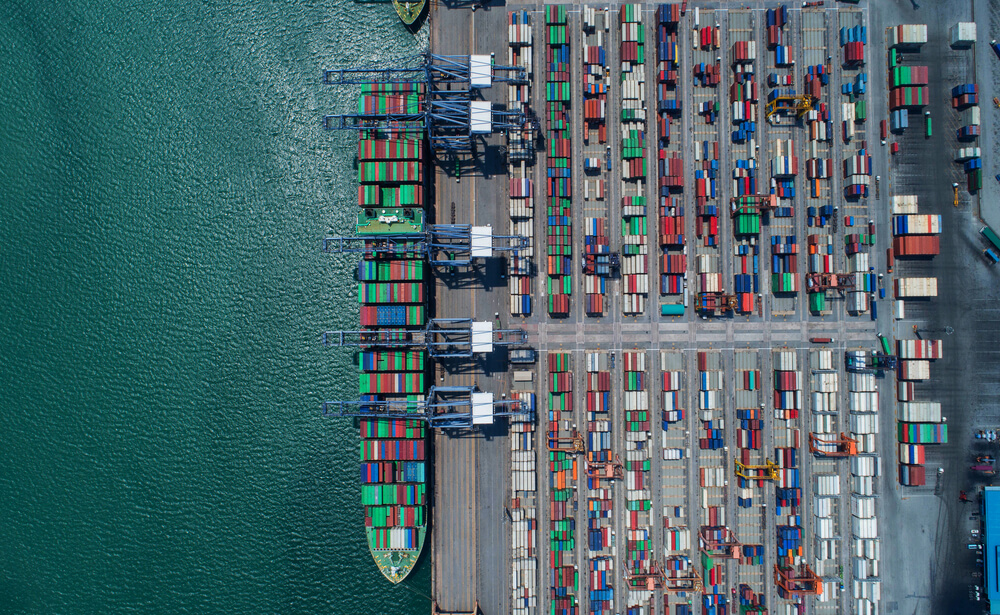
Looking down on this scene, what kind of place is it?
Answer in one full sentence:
This image shows a port.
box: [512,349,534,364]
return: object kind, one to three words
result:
building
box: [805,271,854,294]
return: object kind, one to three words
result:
container crane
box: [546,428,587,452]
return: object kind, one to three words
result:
container crane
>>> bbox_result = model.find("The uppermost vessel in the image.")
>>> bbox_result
[391,0,427,25]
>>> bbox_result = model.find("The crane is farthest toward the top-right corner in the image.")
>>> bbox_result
[765,96,815,123]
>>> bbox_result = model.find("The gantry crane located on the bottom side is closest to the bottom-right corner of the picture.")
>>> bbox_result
[774,563,825,594]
